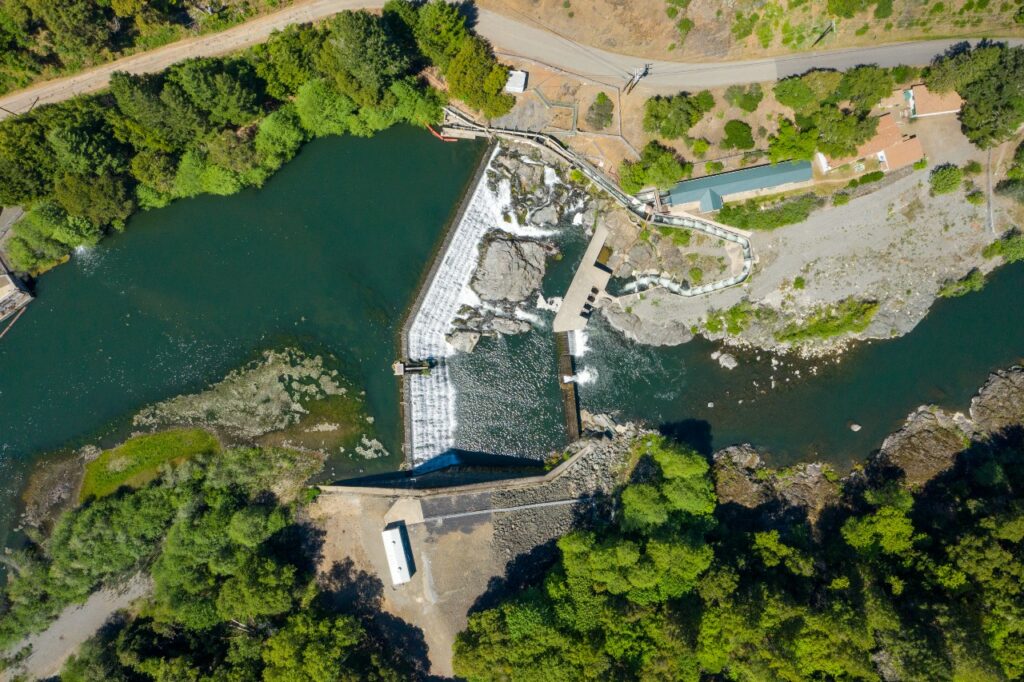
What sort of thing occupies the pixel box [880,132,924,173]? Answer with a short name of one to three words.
house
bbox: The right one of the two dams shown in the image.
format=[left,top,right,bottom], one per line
[555,333,580,442]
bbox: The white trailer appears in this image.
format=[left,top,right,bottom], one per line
[382,525,413,586]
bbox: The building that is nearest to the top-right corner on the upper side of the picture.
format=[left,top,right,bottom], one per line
[907,86,966,124]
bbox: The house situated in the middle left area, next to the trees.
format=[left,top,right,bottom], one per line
[0,251,40,329]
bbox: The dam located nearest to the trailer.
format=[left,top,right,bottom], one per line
[403,140,510,484]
